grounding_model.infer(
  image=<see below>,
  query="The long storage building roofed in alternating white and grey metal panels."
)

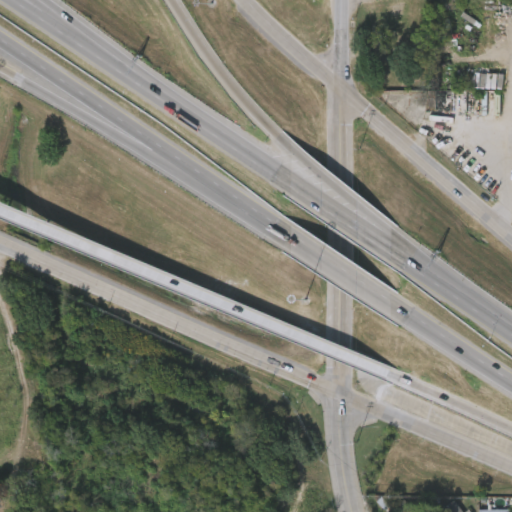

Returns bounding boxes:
[476,74,506,90]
